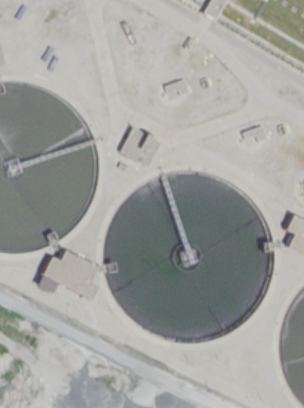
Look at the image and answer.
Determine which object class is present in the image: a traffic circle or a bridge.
bridge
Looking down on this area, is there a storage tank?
Yes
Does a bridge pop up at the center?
Yes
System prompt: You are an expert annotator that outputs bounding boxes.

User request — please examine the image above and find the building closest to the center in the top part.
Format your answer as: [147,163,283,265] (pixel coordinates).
[118,126,161,165]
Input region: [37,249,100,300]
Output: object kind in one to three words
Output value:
building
